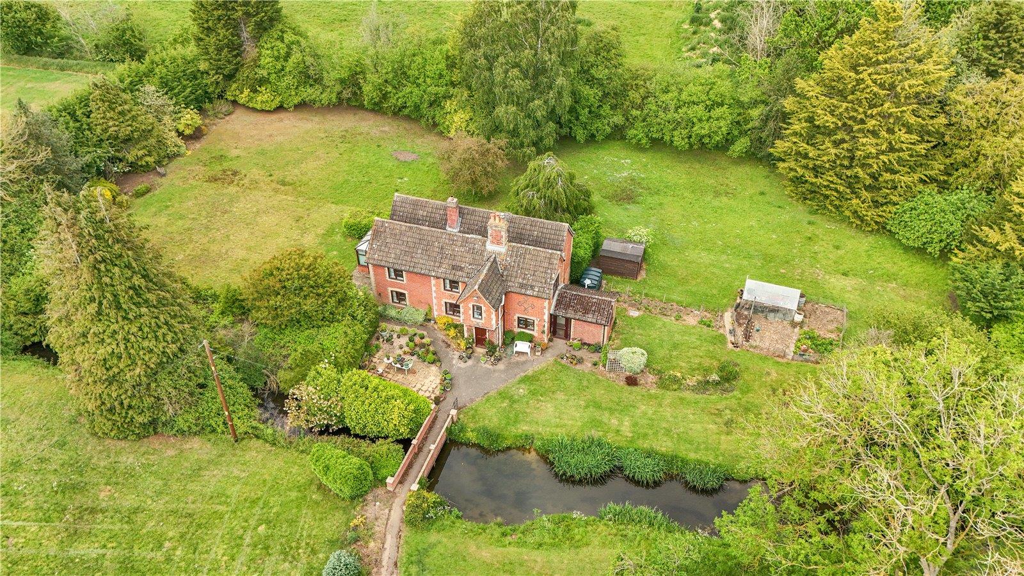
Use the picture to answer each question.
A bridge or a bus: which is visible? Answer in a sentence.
Visible in the photo is a bridge.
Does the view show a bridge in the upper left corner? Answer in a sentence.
No, the scene shows no bridge in the upper left corner.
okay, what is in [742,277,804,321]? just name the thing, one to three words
greenhouse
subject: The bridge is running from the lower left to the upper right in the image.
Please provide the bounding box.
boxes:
[385,402,457,500]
